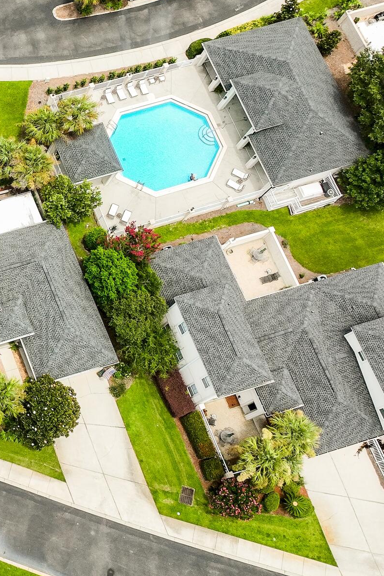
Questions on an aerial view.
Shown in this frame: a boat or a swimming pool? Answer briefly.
swimming pool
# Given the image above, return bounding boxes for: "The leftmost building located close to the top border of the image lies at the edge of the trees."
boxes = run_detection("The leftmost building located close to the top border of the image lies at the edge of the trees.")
[194,17,371,193]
